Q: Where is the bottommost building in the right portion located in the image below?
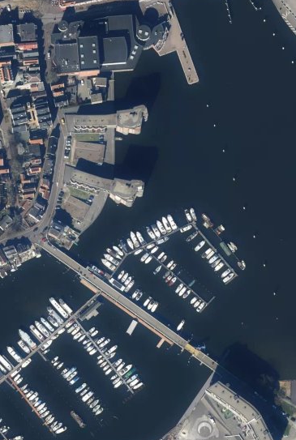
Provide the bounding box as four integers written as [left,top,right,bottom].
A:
[207,381,274,440]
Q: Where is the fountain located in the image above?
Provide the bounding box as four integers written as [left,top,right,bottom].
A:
[196,421,214,438]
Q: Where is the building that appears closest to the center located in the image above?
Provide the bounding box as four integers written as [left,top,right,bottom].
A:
[113,179,145,207]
